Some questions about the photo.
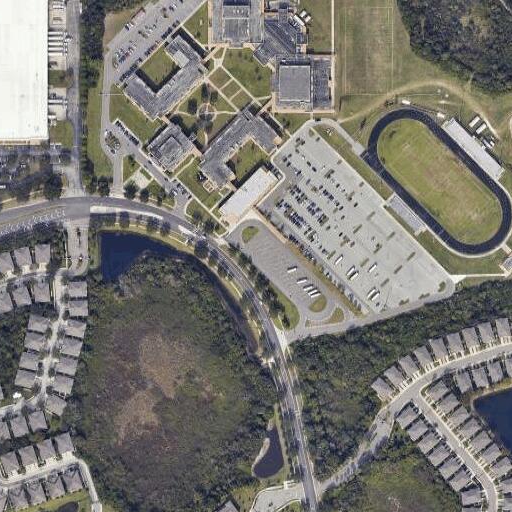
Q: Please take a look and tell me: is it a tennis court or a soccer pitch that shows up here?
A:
soccer pitch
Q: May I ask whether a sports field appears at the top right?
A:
Yes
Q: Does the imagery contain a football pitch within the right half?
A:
Yes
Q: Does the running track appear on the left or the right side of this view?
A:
right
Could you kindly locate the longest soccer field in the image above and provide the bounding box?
[377,118,503,244]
